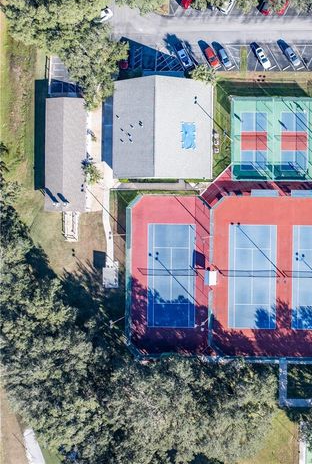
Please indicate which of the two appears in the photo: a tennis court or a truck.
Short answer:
tennis court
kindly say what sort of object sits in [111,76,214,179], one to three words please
building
